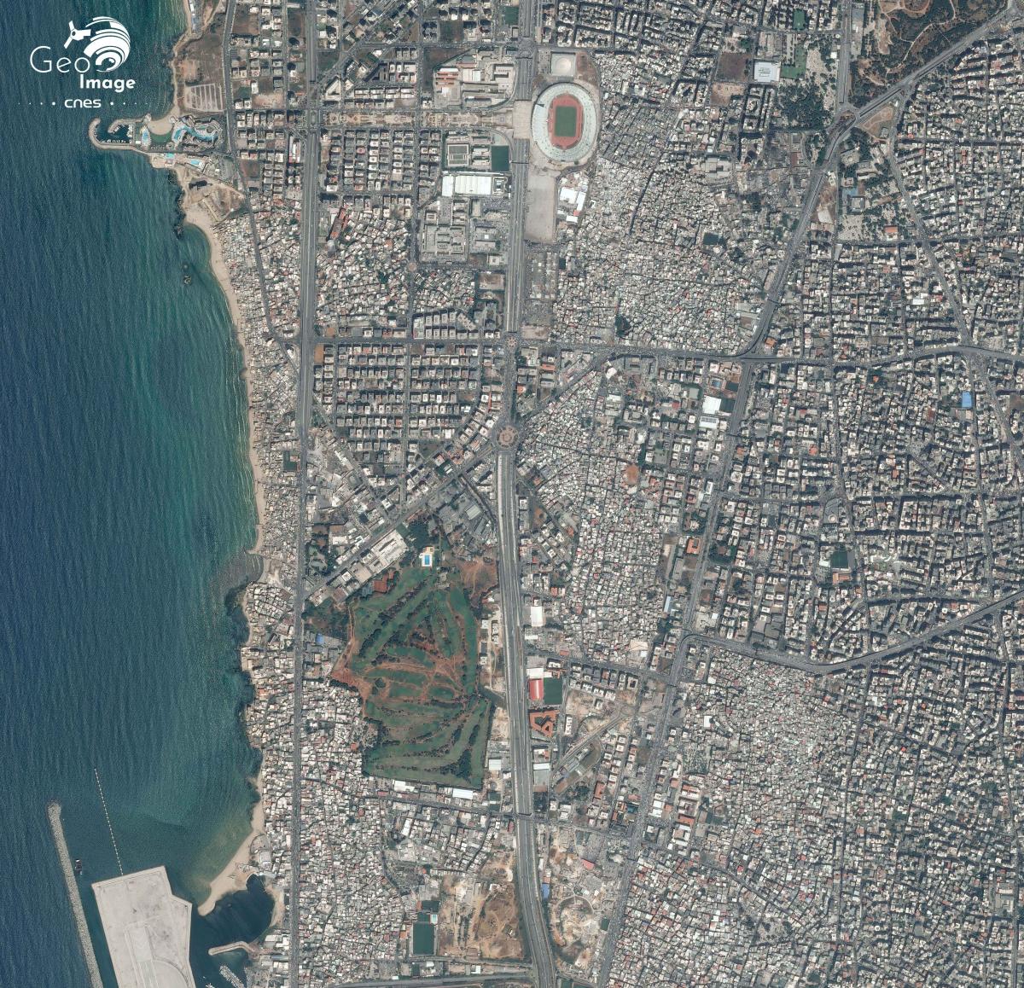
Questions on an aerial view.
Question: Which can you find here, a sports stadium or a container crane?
sports stadium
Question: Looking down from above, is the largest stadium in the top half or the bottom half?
top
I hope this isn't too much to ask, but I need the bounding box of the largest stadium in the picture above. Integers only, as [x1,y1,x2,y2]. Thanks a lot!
[531,81,597,162]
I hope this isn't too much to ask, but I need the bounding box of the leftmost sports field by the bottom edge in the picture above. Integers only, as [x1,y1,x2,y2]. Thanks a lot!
[412,922,435,955]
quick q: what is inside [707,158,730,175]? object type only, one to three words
building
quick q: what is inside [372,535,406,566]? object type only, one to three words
building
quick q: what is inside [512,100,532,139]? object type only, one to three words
bridge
